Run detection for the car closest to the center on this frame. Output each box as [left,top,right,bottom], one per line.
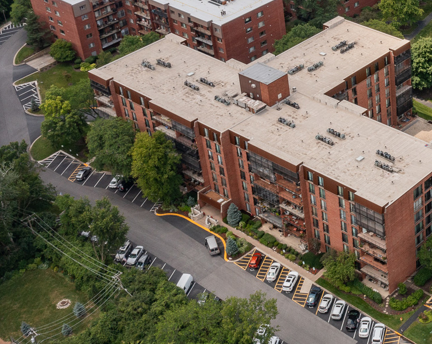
[205,237,219,256]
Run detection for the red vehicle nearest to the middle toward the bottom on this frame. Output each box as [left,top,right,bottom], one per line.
[247,252,262,271]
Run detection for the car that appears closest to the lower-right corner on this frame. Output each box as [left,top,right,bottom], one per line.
[371,324,386,344]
